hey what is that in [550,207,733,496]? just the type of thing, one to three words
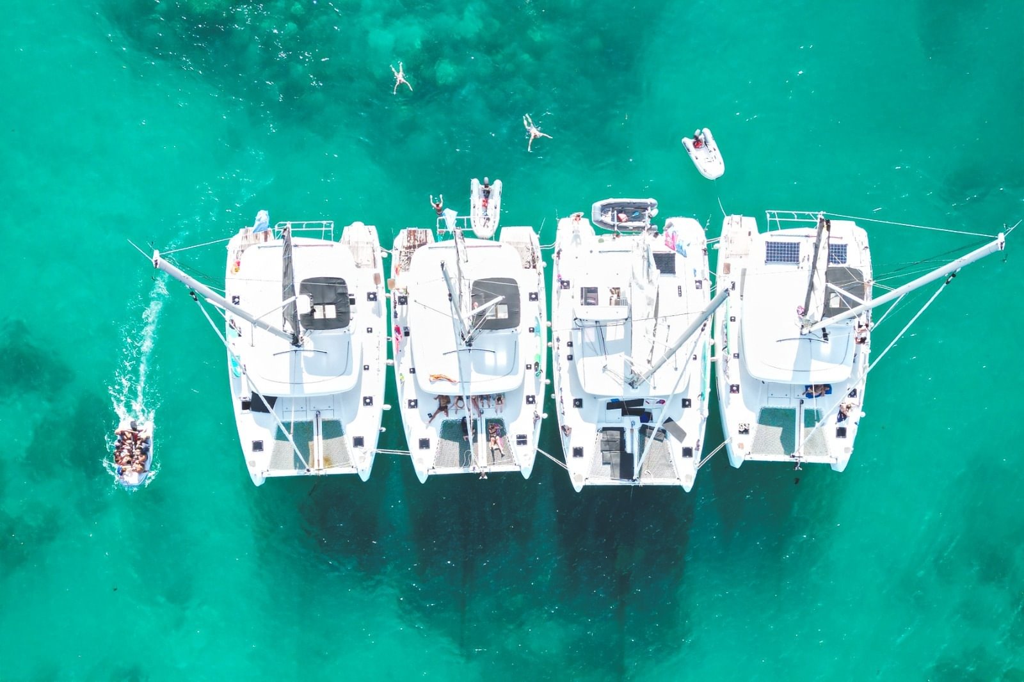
boat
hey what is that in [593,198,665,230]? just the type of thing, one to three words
boat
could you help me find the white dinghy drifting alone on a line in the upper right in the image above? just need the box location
[681,121,724,176]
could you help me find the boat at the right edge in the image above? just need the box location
[711,202,1024,476]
